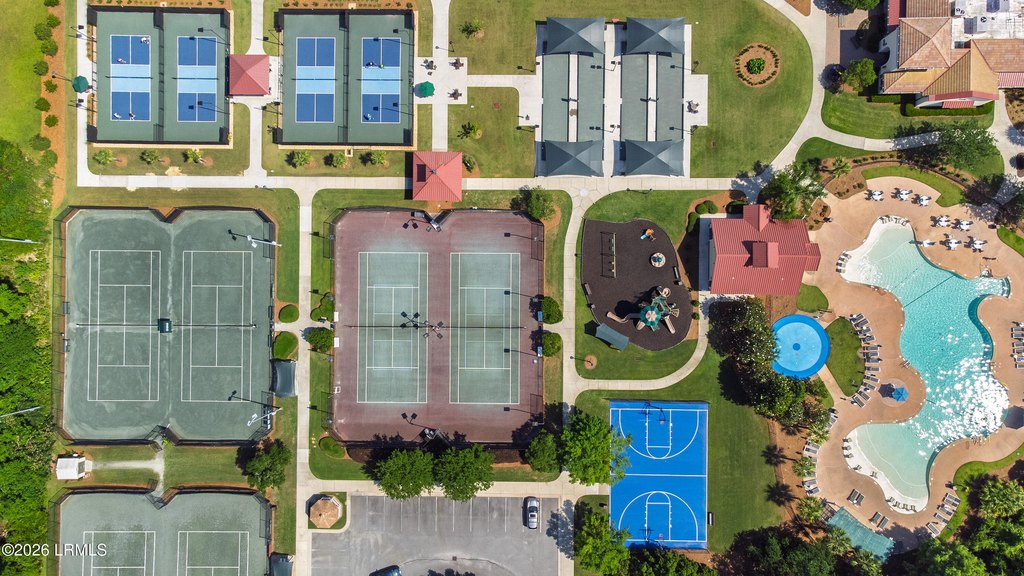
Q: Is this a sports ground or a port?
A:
sports ground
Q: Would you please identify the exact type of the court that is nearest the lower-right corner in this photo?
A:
basketball court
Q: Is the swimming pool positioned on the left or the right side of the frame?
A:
right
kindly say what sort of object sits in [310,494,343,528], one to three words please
gazebo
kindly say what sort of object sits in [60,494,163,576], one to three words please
tennis court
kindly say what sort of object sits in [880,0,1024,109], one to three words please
building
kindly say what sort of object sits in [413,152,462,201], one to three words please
building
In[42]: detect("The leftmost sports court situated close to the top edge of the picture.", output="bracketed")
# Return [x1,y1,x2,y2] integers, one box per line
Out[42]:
[97,12,162,140]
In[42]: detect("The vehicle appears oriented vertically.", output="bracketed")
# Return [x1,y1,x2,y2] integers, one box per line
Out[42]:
[524,499,538,529]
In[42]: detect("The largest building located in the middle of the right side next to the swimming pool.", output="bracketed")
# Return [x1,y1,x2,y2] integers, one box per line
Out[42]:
[708,203,821,294]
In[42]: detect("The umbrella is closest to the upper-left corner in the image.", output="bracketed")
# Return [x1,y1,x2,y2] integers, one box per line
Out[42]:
[72,75,92,94]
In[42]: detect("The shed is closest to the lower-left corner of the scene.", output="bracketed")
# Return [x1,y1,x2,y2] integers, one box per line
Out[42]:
[54,455,94,479]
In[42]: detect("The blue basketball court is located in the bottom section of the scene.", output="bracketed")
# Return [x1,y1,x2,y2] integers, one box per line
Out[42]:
[610,401,708,550]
